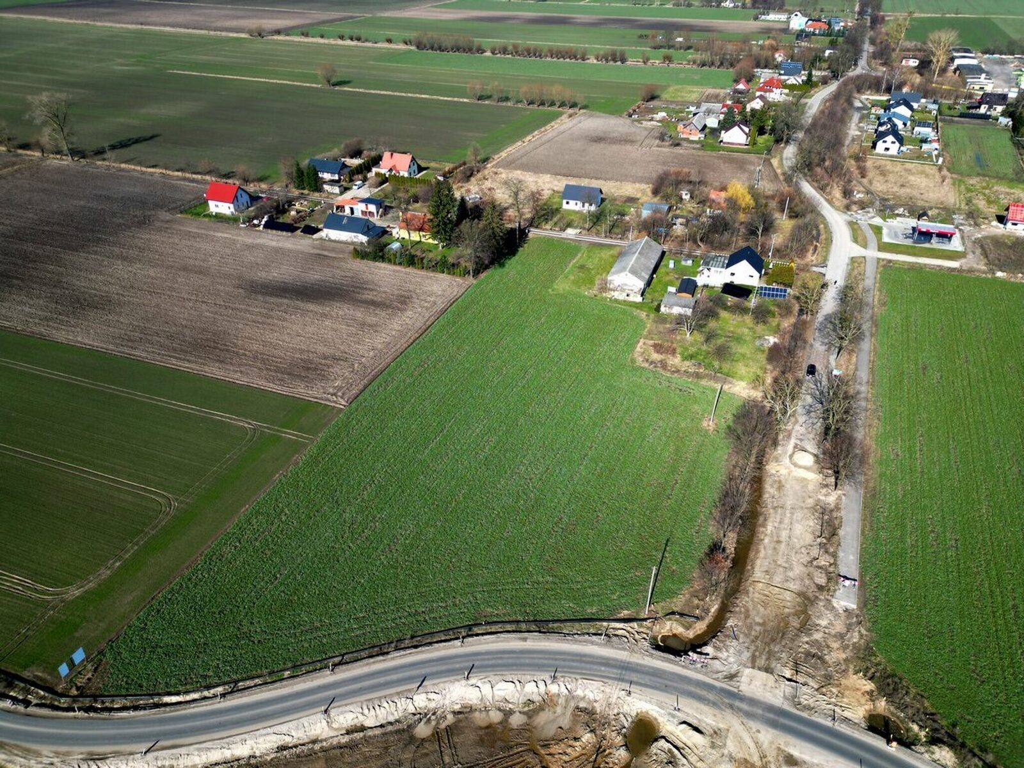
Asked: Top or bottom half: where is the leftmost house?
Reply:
top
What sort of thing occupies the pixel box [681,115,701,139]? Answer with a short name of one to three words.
house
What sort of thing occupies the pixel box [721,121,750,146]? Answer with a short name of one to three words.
house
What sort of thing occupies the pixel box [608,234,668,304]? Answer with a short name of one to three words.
barn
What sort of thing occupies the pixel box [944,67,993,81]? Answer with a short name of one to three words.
building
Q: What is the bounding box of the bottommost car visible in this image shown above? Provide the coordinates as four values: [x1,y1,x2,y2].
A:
[806,366,818,380]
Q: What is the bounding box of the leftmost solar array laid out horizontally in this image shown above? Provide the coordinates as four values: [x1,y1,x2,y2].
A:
[757,288,787,301]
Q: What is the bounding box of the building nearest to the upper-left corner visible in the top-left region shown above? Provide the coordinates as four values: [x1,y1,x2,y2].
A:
[205,181,260,216]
